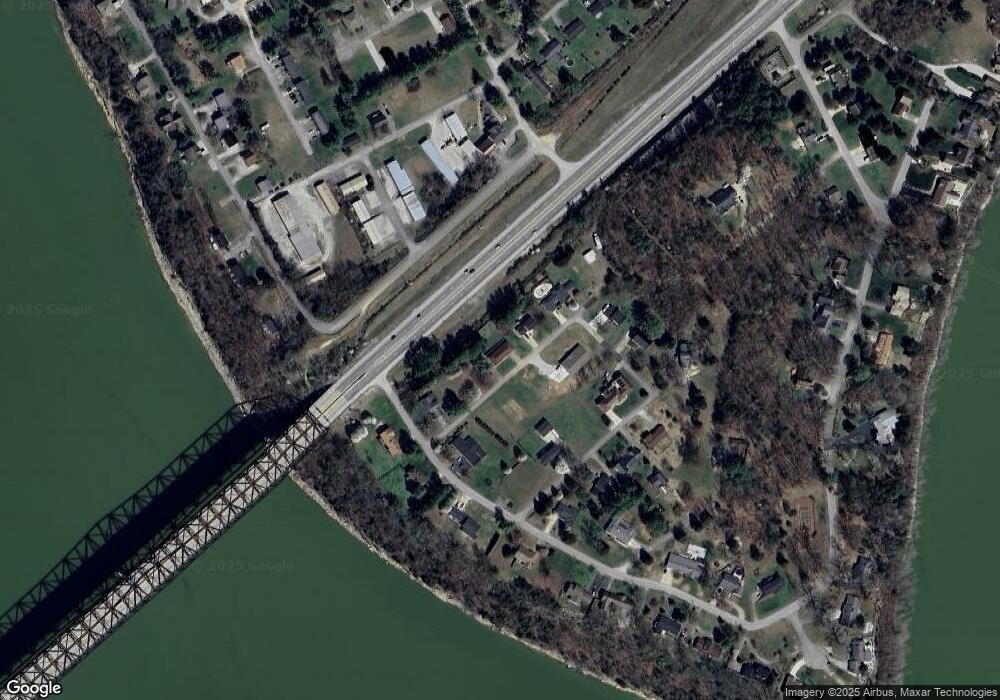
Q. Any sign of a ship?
No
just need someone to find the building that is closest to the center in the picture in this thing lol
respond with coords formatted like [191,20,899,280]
[485,339,512,365]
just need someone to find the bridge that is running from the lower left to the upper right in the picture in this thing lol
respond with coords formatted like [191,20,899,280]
[0,396,333,700]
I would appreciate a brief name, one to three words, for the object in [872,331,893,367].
house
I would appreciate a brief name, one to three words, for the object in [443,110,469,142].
building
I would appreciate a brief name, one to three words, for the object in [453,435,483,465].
house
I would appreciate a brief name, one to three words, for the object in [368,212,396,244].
building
